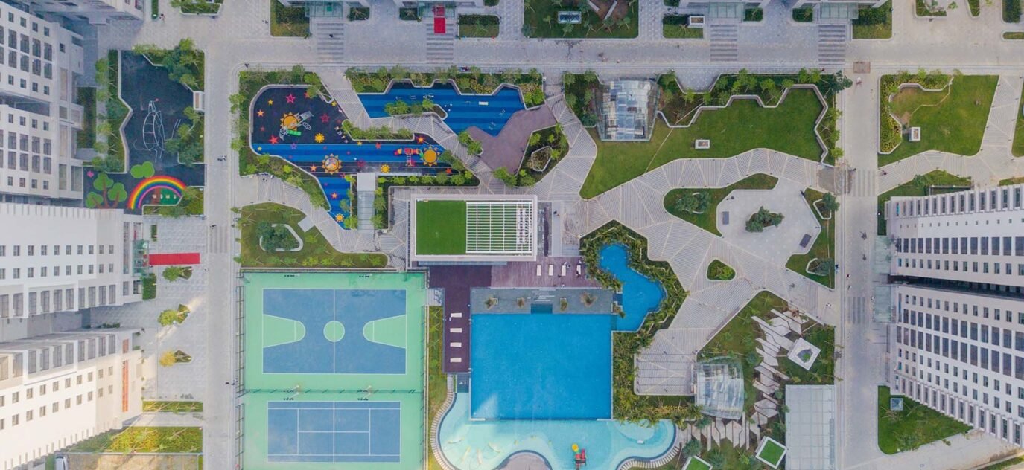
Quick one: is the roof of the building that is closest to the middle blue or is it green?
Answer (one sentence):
The roof of the building that is closest to the middle is green.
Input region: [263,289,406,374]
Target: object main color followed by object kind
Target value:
blue basketball court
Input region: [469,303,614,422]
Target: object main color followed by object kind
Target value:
blue swimming pool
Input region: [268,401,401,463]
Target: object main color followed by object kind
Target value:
blue tennis court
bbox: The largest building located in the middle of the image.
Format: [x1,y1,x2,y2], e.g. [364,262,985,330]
[411,195,537,265]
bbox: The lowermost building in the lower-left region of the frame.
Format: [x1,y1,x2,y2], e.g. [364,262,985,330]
[0,323,142,470]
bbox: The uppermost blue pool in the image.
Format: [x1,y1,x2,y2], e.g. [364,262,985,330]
[599,243,667,332]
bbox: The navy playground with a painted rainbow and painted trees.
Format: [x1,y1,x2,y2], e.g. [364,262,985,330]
[83,50,204,216]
